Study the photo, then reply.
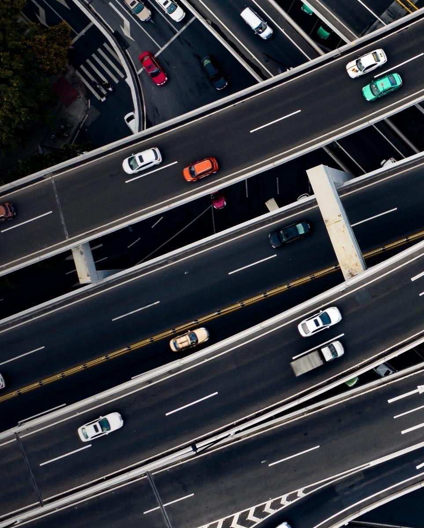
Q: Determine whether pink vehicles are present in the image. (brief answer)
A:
Yes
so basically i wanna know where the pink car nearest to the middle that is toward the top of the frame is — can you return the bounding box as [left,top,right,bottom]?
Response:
[208,189,227,211]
